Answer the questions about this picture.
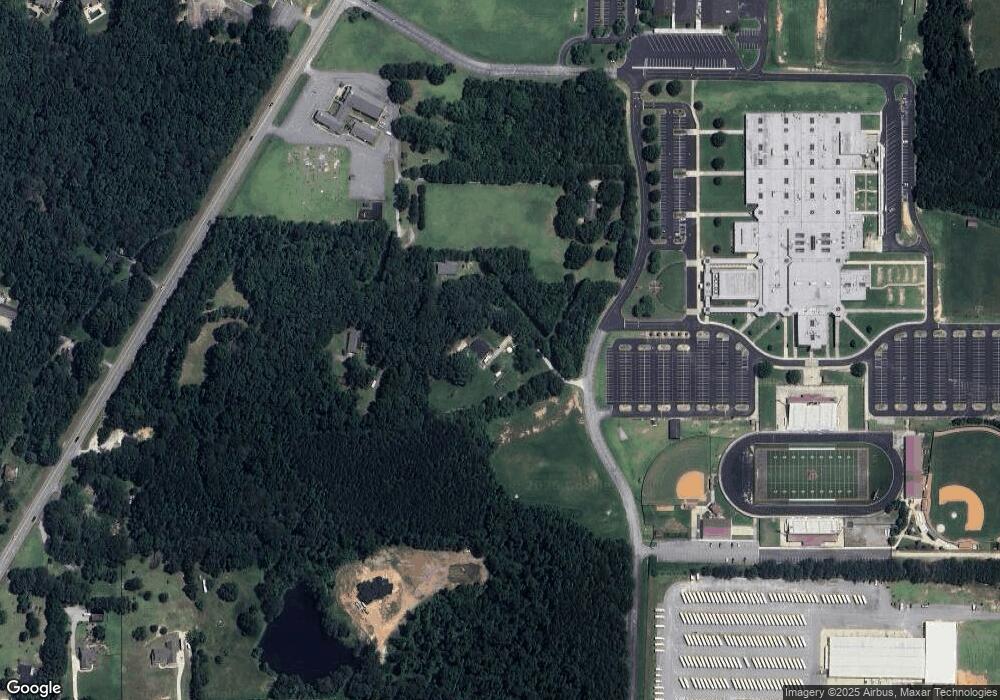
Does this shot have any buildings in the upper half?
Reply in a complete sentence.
Yes, the scene does show a building in the upper half.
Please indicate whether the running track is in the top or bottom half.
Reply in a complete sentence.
The running track is in the bottom half of the image.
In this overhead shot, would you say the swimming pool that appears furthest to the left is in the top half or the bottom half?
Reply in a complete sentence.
It is in the top half that the swimming pool that appears furthest to the left appears.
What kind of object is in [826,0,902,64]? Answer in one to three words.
sports field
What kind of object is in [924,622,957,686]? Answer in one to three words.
building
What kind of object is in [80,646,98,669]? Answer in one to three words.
house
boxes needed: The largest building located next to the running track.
[704,112,879,350]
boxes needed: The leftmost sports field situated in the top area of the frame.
[784,0,814,62]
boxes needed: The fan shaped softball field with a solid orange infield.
[642,436,710,506]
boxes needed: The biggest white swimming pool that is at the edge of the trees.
[84,3,105,23]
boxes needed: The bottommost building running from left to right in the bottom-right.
[828,637,925,679]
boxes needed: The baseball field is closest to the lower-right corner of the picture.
[927,425,1000,552]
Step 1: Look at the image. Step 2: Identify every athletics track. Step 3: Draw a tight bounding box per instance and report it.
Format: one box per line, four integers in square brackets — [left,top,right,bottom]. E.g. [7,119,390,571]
[719,431,904,517]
